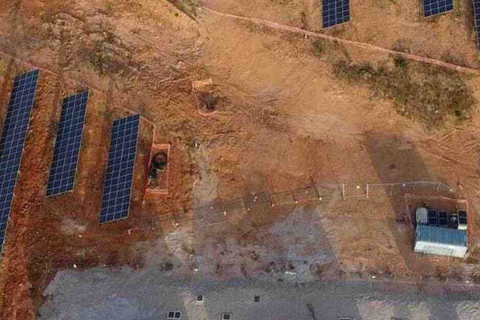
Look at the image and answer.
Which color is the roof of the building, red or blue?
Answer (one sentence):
From above, the roof of the building appears blue.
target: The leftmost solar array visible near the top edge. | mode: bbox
[322,0,352,29]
